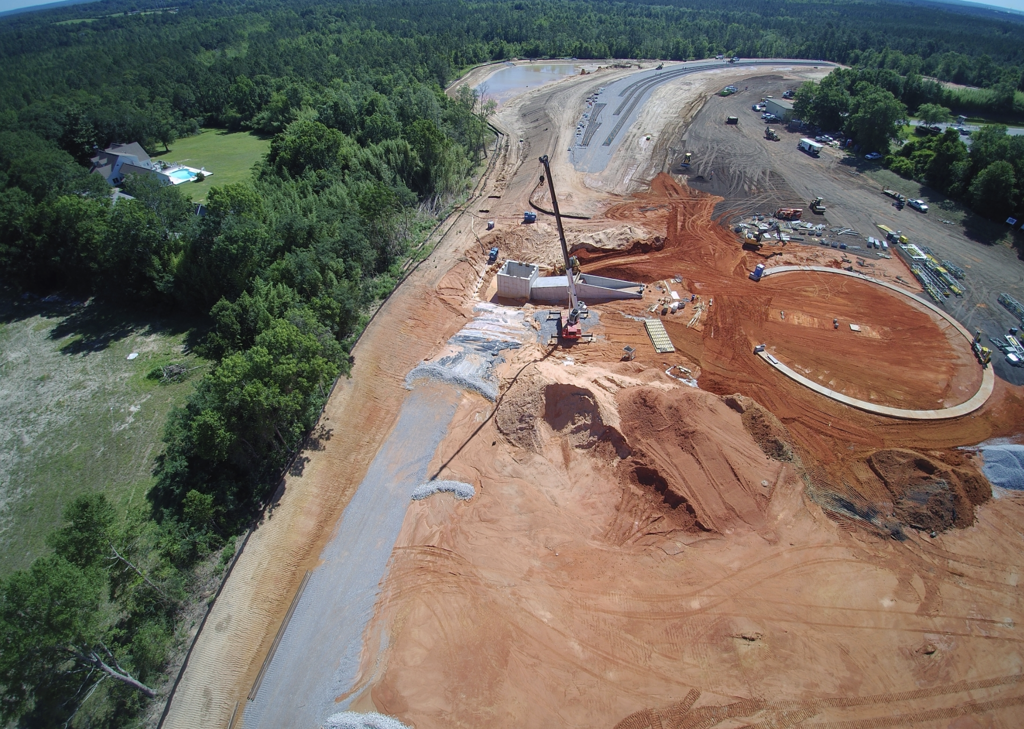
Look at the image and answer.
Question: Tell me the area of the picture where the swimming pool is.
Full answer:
The swimming pool appears toward the top left of the photo.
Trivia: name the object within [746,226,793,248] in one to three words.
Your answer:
work vehicle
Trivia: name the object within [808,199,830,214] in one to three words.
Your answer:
work vehicle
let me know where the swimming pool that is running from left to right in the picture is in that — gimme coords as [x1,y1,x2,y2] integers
[165,163,213,184]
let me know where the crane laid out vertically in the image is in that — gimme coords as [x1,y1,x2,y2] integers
[531,154,597,341]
